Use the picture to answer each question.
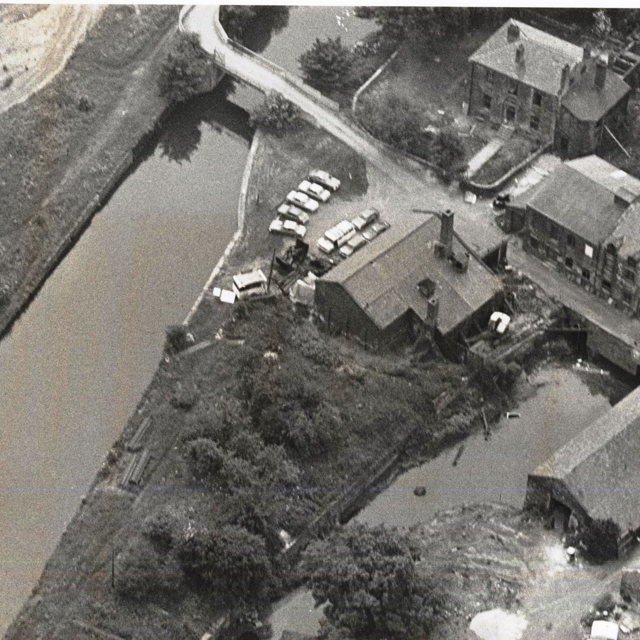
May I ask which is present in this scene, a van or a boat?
van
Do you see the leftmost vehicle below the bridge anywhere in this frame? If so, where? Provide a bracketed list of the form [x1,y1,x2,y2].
[235,259,268,294]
